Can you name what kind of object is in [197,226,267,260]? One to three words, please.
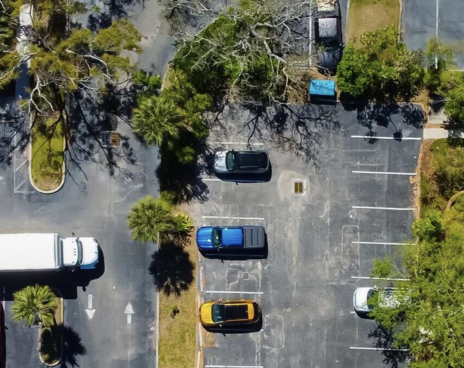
truck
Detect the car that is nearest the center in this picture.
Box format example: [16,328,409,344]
[214,149,273,182]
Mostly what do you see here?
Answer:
paved ground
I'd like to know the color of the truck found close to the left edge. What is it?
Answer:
white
